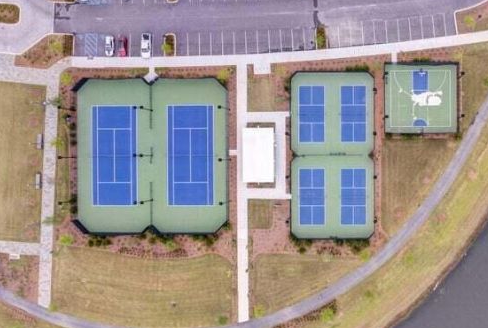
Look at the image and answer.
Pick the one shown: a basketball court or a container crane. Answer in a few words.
basketball court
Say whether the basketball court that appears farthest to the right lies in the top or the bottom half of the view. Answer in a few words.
top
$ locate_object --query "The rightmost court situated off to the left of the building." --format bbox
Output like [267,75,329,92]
[151,79,228,234]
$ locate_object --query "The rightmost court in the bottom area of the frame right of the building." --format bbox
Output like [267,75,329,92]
[332,155,374,240]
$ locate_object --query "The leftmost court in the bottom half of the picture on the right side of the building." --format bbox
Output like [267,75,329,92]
[291,155,332,240]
